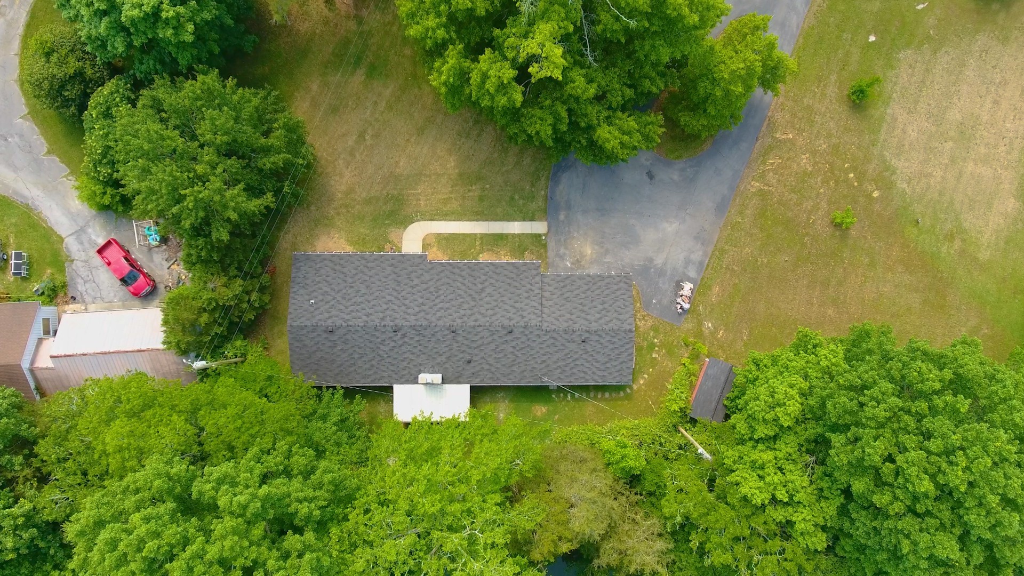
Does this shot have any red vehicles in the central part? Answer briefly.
No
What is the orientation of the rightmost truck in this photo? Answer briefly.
diagonally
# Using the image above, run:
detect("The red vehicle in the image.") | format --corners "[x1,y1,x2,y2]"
[95,237,159,300]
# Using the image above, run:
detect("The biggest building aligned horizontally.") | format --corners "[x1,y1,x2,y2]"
[287,251,635,421]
